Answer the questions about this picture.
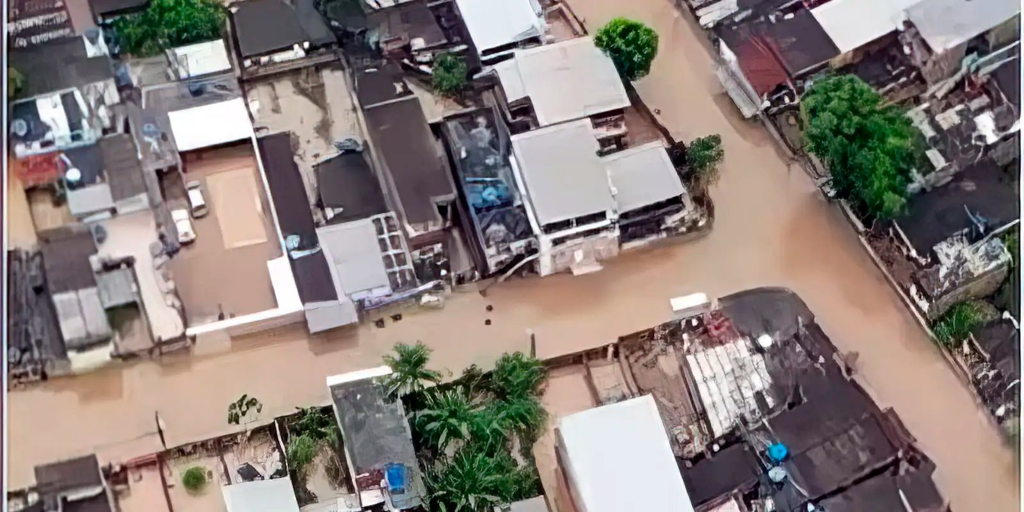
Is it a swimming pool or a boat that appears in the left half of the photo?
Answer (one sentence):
It is a swimming pool that can be seen in the left half of the photo.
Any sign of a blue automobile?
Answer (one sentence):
No, there appears to be no blue automobile in this shot.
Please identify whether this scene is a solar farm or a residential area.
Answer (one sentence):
The area seen from above is a residential area.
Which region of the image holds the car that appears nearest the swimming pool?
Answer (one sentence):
Look in the left portion of the view to spot the car that appears nearest the swimming pool.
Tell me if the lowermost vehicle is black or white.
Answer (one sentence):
The color of the lowermost vehicle is white.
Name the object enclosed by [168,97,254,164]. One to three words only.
house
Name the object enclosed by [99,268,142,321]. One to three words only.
shed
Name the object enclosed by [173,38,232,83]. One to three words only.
house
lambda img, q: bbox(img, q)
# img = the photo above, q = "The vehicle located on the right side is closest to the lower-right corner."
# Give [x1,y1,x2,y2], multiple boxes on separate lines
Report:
[670,293,710,314]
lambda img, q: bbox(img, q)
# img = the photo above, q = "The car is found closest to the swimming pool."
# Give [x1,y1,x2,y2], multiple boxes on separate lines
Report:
[186,183,211,220]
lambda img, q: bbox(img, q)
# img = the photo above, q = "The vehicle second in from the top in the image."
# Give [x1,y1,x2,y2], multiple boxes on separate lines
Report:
[170,211,198,250]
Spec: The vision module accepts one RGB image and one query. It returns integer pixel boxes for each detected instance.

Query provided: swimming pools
[205,165,268,250]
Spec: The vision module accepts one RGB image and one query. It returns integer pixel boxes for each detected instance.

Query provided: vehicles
[170,211,198,250]
[670,293,710,314]
[186,183,211,220]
